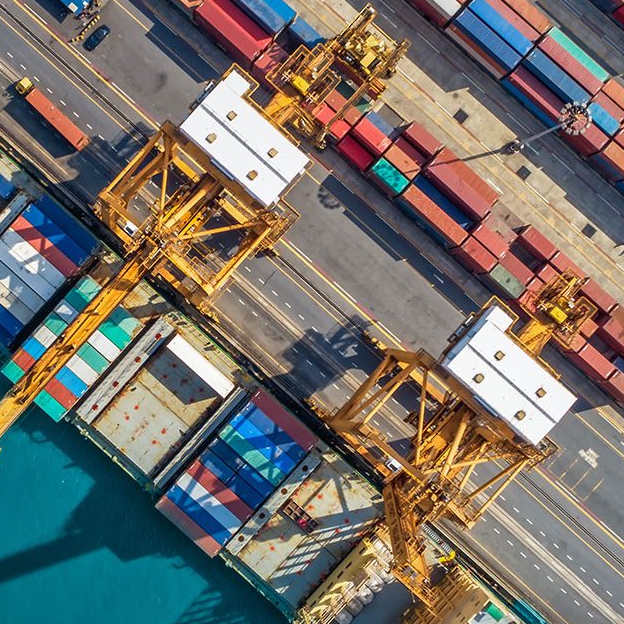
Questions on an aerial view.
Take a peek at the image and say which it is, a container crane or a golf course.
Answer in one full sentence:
I can see a container crane in this picture.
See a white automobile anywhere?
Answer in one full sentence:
No, I can't see a single white automobile in this photo.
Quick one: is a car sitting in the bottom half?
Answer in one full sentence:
No, no car can be made out in the bottom half.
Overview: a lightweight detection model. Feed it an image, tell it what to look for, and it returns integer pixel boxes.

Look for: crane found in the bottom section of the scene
[294,266,604,618]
